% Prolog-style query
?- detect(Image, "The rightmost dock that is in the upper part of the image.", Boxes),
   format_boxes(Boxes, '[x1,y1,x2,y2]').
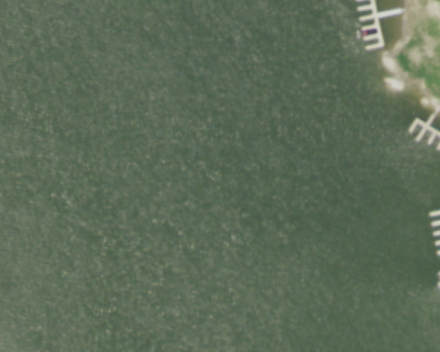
[408,107,440,151]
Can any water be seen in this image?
Yes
